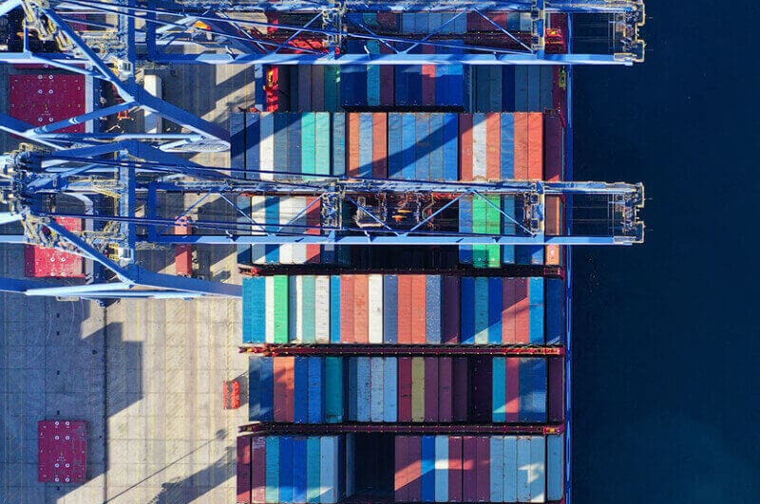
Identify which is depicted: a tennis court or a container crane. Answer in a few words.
container crane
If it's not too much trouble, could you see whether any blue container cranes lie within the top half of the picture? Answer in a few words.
Yes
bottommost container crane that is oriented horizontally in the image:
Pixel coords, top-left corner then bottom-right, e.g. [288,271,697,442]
[0,139,652,310]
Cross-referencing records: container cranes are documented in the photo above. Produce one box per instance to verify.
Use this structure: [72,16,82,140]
[0,0,649,169]
[0,139,652,310]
